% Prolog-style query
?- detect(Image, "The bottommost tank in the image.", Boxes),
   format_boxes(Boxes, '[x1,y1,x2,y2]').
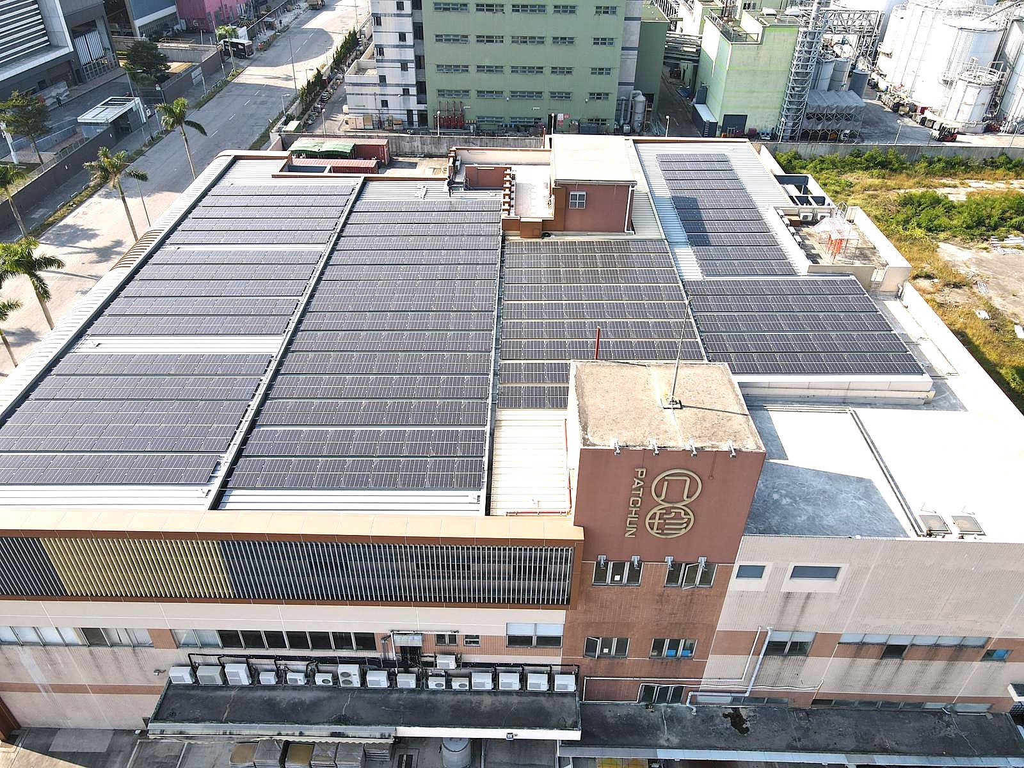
[442,738,472,768]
